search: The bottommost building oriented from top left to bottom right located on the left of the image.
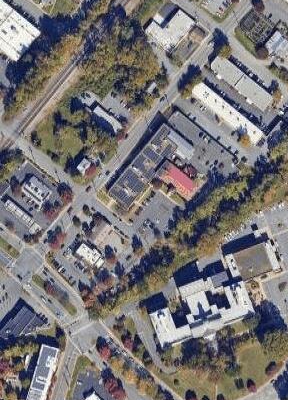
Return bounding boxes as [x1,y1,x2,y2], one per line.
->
[76,244,104,269]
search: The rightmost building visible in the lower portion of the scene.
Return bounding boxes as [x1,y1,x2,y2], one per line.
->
[226,241,281,282]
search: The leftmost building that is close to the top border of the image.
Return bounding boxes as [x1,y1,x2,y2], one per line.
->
[0,1,40,63]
